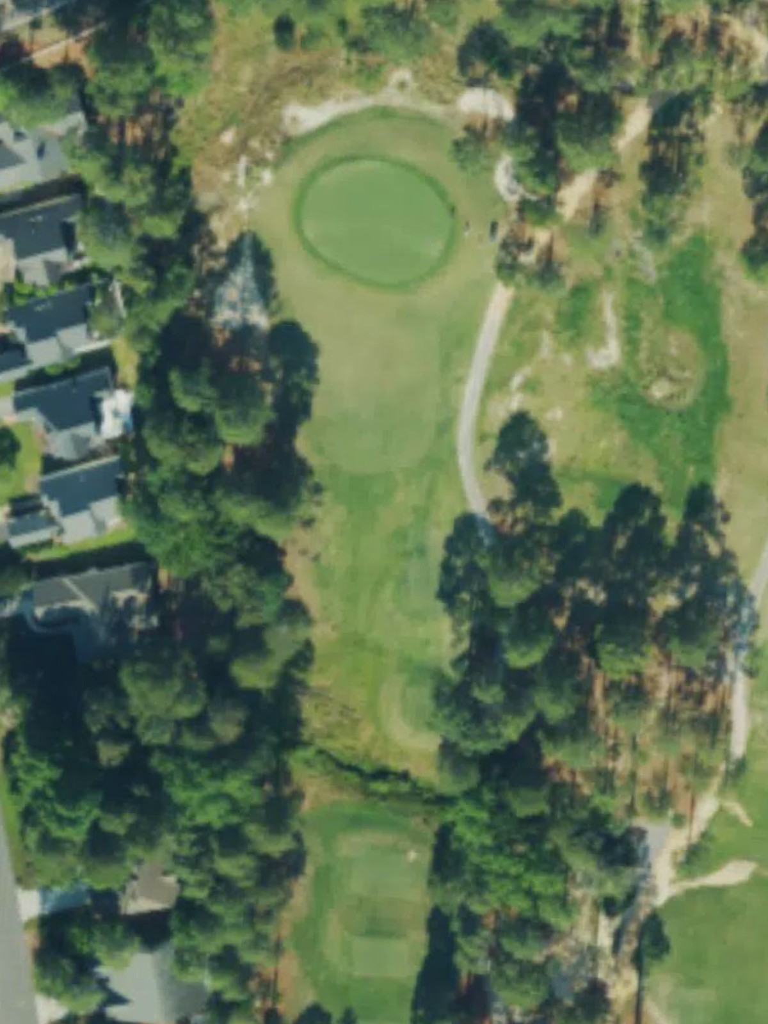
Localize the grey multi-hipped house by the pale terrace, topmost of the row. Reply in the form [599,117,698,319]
[0,113,75,192]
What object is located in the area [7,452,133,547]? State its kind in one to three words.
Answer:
house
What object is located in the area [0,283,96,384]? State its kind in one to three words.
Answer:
house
